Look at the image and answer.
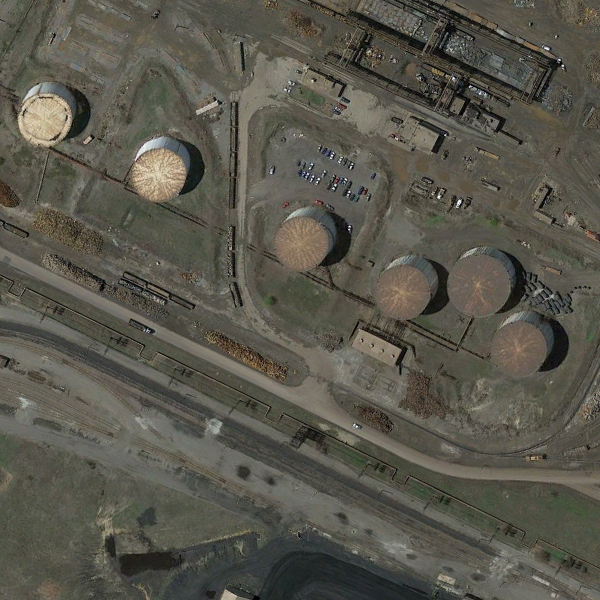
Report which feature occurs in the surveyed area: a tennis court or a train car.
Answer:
train car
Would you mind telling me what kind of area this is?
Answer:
industrial area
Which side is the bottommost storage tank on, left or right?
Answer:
right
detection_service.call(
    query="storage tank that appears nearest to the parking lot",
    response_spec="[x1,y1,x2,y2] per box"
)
[273,206,336,271]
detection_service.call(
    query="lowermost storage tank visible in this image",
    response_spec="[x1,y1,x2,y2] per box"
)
[490,309,554,377]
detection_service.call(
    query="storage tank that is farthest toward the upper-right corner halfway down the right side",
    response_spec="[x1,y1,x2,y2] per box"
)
[446,245,516,317]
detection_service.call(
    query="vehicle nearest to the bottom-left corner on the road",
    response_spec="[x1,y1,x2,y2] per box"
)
[128,317,155,334]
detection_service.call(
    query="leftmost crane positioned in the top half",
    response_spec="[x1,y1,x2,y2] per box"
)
[336,23,370,69]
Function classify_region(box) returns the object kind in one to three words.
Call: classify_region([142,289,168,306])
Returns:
rail car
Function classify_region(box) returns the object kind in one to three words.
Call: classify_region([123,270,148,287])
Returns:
rail car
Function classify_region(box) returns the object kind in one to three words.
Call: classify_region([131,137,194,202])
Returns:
storage tank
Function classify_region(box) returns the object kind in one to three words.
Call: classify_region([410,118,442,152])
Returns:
building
